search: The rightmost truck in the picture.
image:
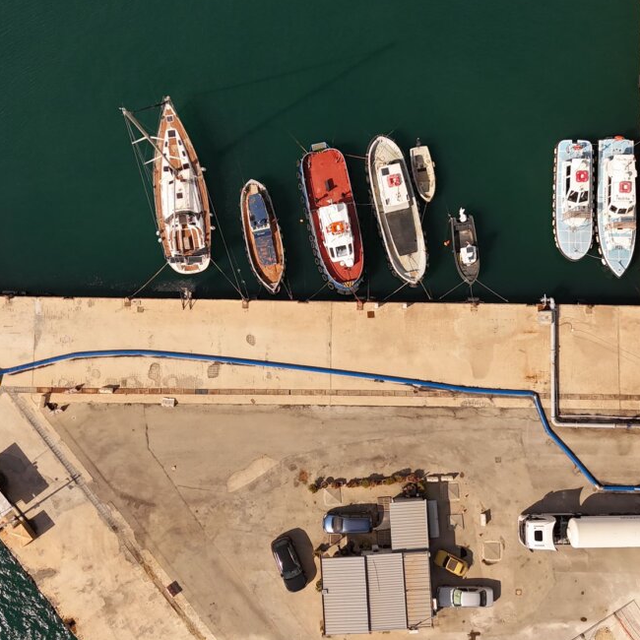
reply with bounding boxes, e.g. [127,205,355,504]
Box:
[518,513,640,554]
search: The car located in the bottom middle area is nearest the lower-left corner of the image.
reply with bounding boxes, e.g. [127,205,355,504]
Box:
[271,535,306,594]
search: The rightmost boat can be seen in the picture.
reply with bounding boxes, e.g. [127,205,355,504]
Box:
[595,136,637,279]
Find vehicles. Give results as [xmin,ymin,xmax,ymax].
[324,513,372,537]
[437,585,495,610]
[518,513,640,554]
[432,550,472,580]
[271,535,306,594]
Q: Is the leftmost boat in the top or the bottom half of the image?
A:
top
